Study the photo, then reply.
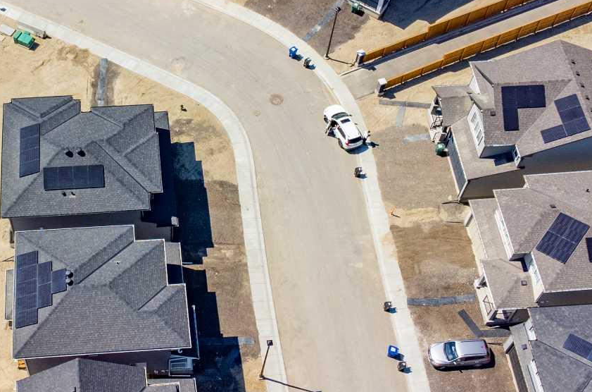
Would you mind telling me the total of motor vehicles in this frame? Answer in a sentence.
In total, 2 motor vehicles can be seen.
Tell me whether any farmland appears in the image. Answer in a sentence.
No, no farmland is visible.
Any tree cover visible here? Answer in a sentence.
No, no tree cover is visible.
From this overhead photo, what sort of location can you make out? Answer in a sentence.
The area seen from above is a residential area.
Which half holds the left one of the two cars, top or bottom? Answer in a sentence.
It is in the top half that the left one of the two cars appears.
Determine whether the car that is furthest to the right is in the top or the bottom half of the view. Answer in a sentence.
The bottom half of the photo is where the car that is furthest to the right is.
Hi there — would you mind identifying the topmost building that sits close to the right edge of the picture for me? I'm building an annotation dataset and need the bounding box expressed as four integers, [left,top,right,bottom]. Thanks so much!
[416,40,592,203]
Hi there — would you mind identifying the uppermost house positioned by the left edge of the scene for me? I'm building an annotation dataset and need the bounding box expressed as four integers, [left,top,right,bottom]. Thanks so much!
[0,95,178,243]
